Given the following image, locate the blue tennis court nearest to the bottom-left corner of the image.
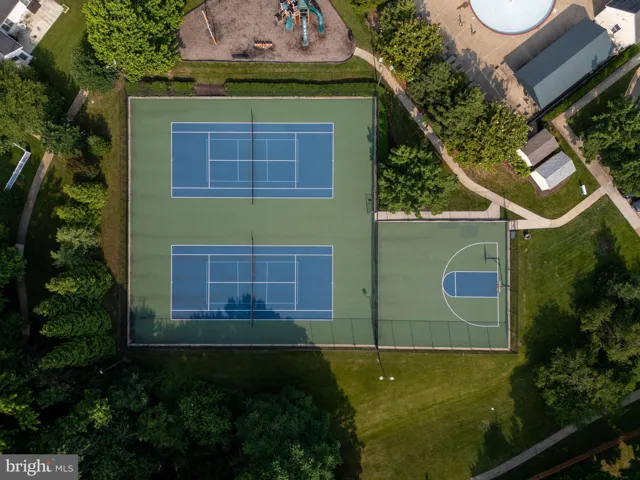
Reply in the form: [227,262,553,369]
[171,244,334,321]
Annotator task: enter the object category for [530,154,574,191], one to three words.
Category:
shed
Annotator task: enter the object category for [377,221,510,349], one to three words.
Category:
basketball court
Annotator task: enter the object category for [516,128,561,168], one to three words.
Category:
shed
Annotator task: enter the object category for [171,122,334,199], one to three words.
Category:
tennis court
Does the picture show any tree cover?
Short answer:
Yes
